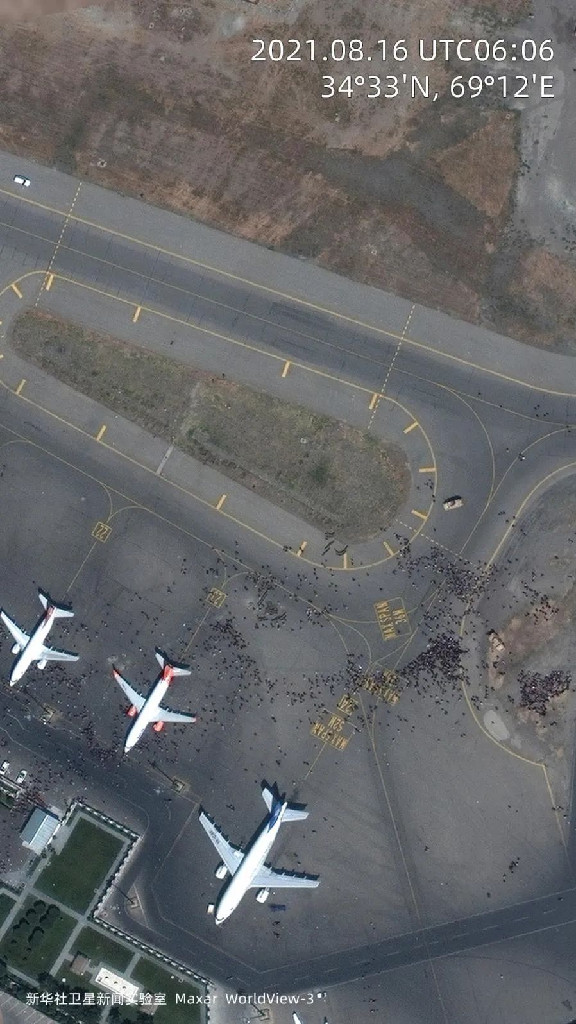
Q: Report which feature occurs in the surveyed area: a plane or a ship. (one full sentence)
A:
This aerial view contains a plane.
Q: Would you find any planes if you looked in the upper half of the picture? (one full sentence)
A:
No, looking in the upper half of the picture, there is no plane.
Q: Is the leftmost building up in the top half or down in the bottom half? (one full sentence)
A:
The leftmost building sits in the bottom half of the picture.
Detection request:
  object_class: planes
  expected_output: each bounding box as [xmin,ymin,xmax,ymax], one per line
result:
[2,594,77,686]
[199,787,319,922]
[113,653,196,752]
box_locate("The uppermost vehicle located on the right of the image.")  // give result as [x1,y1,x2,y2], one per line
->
[444,496,463,509]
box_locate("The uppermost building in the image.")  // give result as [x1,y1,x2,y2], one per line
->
[20,807,63,854]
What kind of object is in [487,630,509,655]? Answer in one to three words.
truck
